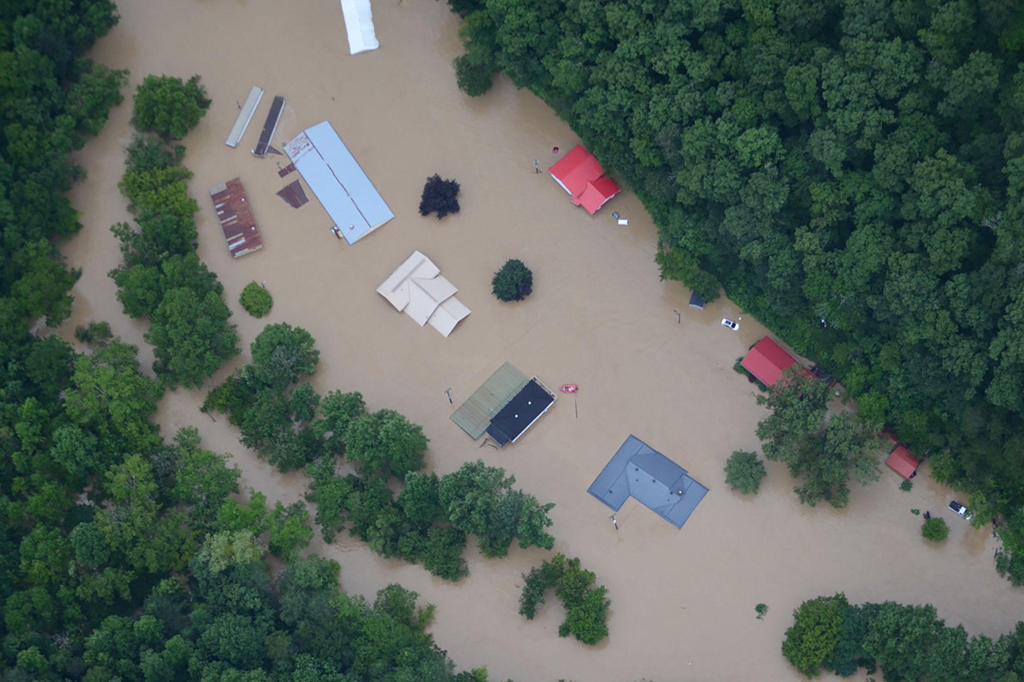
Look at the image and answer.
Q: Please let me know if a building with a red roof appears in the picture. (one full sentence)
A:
Yes, a building with a red roof is visible in the scene.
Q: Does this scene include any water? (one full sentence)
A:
Yes, water shows up in the scene.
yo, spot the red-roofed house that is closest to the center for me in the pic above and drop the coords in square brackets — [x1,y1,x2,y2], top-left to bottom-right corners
[548,144,621,215]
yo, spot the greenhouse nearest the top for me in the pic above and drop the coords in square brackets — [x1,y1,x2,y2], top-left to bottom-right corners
[342,0,378,54]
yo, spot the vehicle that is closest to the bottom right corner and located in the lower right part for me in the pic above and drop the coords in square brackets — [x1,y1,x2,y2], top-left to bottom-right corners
[945,498,972,522]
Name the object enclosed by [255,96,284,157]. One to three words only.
trailer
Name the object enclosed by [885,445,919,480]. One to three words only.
building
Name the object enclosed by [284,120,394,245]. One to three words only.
barn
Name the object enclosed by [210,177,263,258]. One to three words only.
shed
